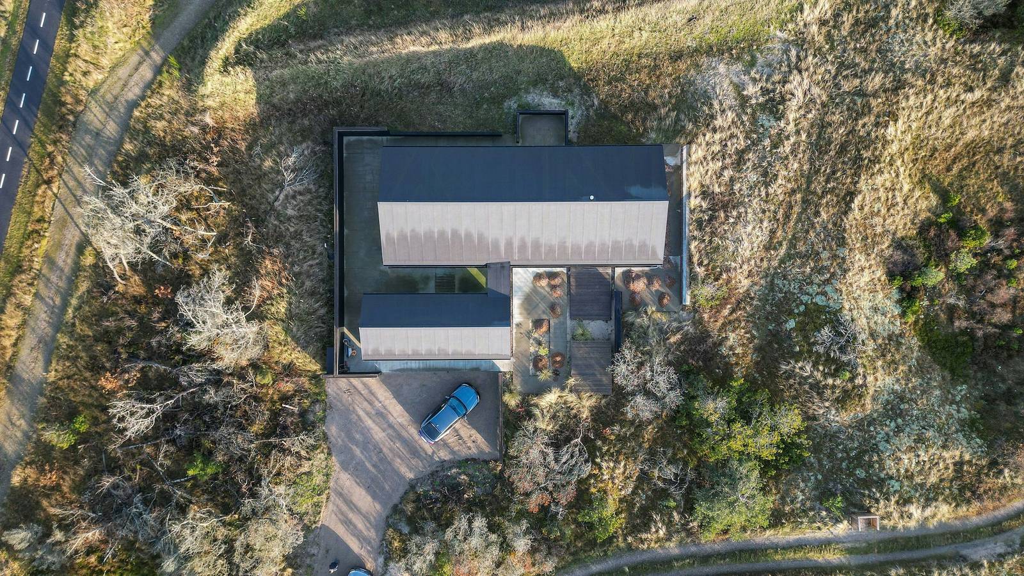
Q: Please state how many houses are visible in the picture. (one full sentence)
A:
I count 1 house.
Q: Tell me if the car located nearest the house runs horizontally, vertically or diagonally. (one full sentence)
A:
What the image shows is the car located nearest the house lying diagonally.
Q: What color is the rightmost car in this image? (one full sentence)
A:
The rightmost car is blue.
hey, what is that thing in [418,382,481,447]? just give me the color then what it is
blue car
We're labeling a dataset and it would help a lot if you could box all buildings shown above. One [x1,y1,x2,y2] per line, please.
[359,145,670,362]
